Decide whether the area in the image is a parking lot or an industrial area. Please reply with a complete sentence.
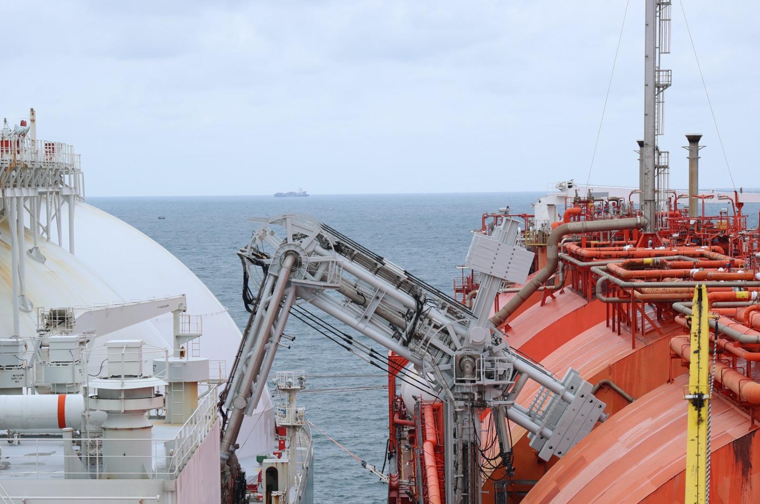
This image shows an industrial area.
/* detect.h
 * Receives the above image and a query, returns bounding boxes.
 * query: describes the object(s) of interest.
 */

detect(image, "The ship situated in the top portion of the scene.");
[274,186,309,199]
